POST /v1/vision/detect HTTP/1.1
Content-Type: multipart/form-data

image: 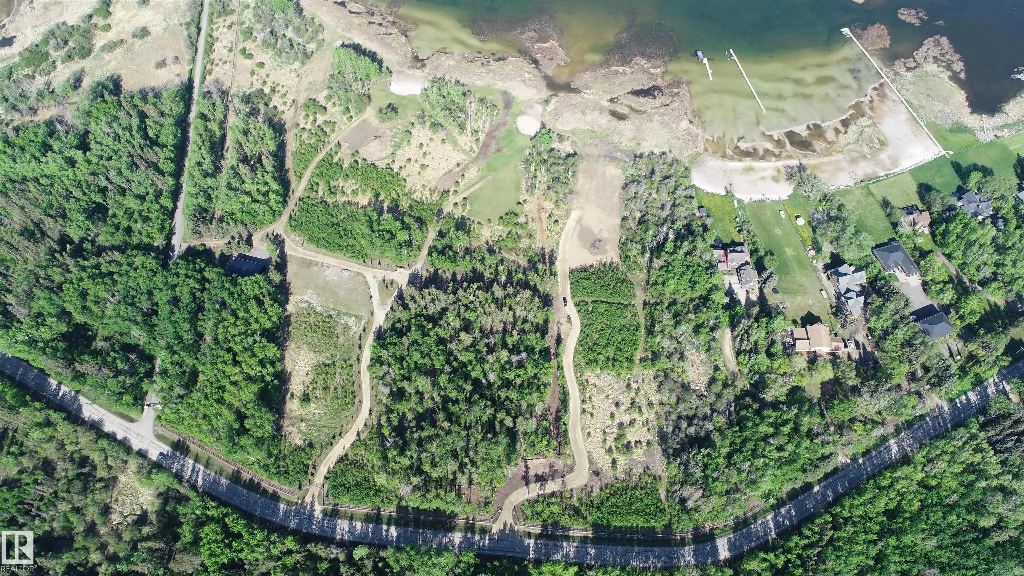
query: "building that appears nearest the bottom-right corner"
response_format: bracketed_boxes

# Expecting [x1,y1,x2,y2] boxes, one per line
[914,310,957,345]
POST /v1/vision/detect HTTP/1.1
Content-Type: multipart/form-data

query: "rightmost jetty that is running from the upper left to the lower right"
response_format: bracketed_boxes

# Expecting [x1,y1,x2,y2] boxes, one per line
[840,30,949,158]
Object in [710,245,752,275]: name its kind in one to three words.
house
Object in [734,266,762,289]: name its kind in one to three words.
building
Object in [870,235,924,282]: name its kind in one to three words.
house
